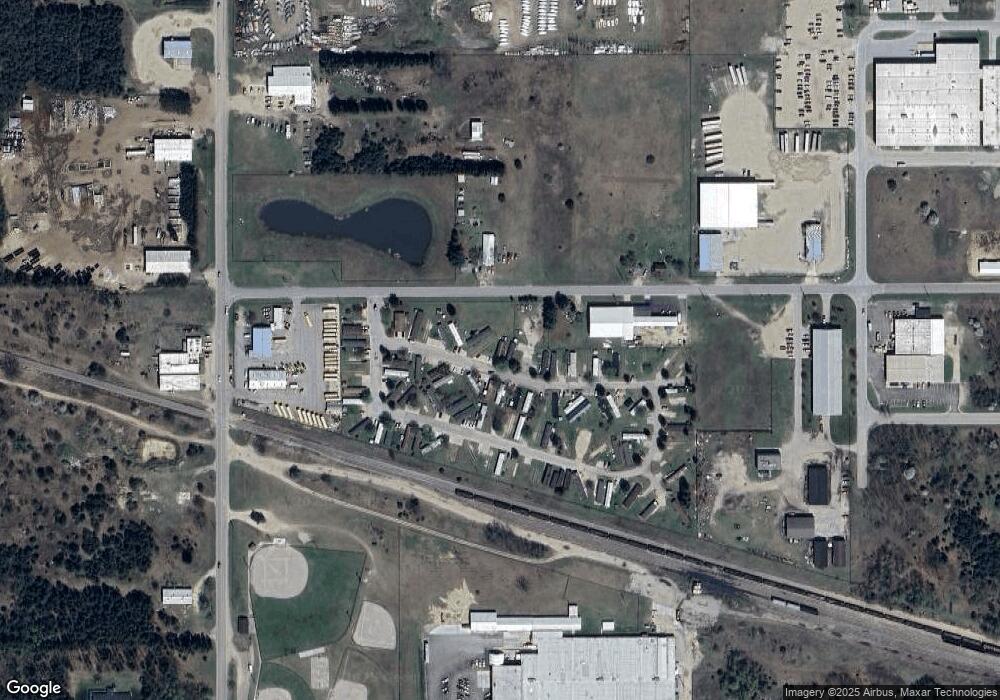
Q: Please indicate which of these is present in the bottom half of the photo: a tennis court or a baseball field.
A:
baseball field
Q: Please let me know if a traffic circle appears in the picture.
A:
No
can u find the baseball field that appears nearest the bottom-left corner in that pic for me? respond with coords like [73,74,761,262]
[256,663,312,700]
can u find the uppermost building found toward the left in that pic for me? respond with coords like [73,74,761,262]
[163,40,192,59]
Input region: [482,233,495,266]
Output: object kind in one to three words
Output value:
house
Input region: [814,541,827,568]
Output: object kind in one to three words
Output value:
building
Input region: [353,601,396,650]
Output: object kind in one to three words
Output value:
baseball field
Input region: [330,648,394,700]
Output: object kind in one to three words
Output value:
baseball field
